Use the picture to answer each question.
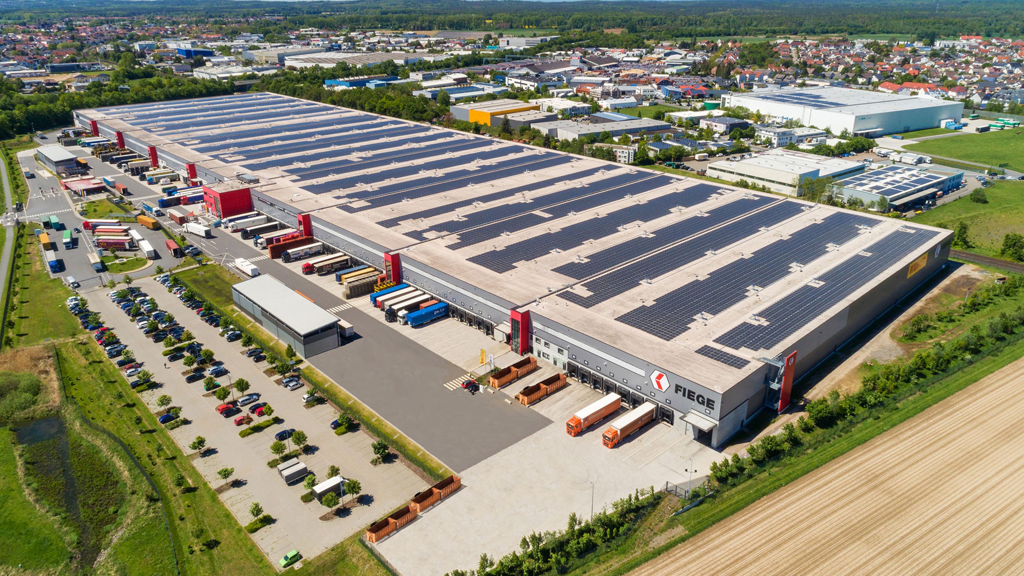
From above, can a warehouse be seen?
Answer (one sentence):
Yes, there is a warehouse in the image.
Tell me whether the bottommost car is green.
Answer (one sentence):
Yes, the bottommost car is indeed green.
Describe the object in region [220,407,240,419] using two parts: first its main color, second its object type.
black vehicle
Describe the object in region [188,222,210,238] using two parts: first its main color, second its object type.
white vehicle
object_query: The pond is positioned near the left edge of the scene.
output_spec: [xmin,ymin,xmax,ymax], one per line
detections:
[13,415,89,531]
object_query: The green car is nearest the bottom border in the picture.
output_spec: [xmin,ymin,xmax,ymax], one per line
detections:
[277,548,303,568]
